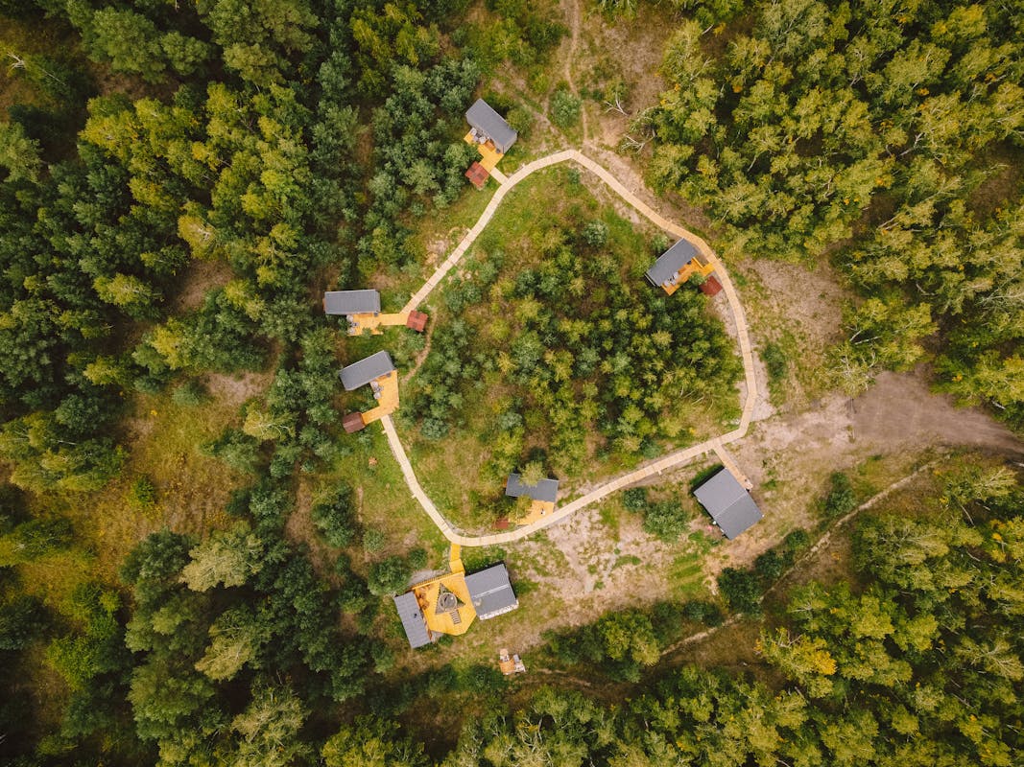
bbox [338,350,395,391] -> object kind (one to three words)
building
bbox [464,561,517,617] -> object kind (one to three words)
house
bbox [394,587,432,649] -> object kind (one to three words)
house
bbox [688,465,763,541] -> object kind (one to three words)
building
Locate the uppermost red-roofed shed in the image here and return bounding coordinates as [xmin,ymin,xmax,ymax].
[465,163,490,189]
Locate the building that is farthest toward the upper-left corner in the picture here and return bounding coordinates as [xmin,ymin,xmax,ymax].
[322,289,381,315]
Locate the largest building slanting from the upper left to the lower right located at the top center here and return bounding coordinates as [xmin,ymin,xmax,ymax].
[466,97,517,152]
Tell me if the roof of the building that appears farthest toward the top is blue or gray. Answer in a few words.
gray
